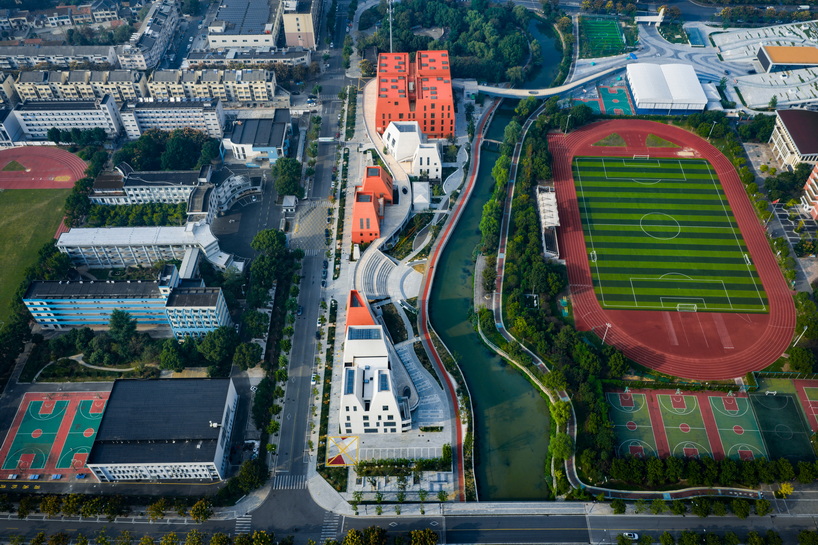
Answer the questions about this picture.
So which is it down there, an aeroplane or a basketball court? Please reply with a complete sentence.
Visible in the photo is a basketball court.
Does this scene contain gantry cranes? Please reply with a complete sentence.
No, there's no gantry crane here.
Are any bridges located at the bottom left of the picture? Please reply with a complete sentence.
No, there's no bridge to be seen at the bottom left of the picture.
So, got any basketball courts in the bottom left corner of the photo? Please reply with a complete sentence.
Yes, a basketball court is visible in the bottom left corner of the photo.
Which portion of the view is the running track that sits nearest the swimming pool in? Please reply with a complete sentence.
The running track that sits nearest the swimming pool appears toward the right of the photo.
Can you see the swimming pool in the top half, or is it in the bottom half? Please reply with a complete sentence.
The swimming pool sits in the top half of the picture.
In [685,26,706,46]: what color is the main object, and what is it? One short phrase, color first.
blue swimming pool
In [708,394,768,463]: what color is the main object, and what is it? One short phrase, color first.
green basketball court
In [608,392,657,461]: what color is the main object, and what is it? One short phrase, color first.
green basketball court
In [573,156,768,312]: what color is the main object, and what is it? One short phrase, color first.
green soccer field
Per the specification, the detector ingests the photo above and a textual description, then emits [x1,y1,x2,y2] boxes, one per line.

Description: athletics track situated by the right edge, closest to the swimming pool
[548,117,795,380]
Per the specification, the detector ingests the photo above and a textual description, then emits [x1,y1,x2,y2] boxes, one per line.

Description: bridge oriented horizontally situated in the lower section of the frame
[441,500,590,544]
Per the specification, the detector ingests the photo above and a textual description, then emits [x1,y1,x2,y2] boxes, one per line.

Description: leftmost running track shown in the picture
[0,148,89,376]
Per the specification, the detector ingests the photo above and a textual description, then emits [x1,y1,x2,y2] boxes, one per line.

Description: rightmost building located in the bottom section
[339,291,415,433]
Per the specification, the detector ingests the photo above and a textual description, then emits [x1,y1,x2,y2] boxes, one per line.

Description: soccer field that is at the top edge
[582,16,631,54]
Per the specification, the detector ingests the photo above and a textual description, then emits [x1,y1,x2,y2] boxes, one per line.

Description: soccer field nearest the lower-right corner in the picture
[749,392,816,464]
